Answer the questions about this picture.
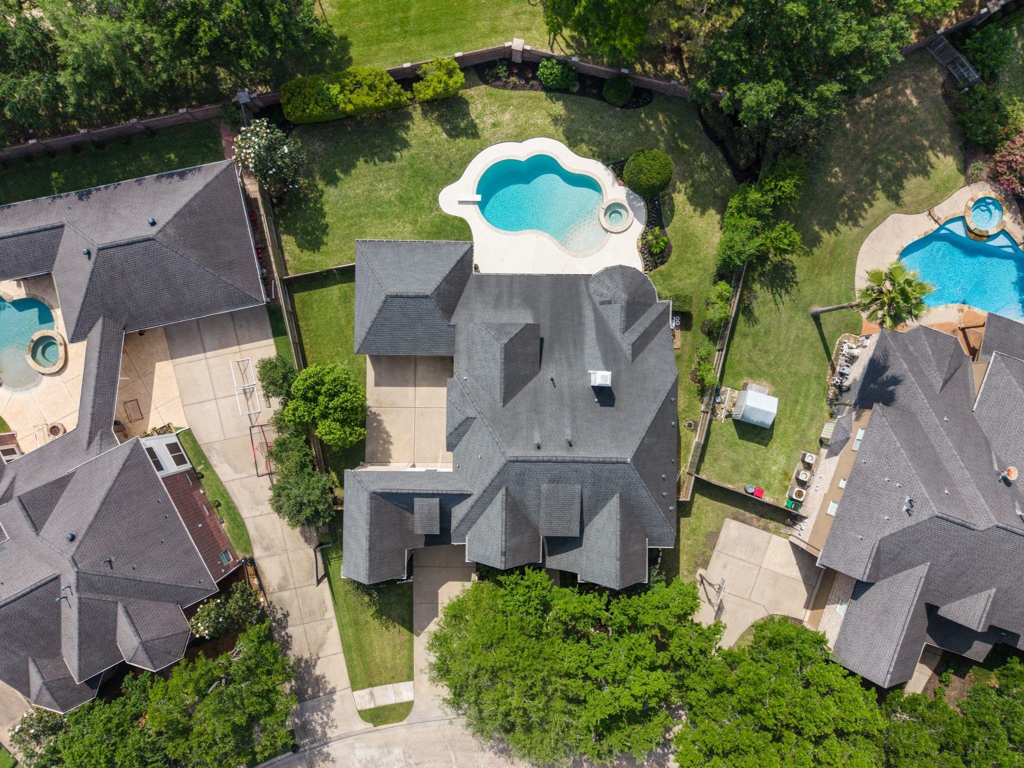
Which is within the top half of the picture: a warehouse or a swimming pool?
swimming pool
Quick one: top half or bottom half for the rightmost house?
bottom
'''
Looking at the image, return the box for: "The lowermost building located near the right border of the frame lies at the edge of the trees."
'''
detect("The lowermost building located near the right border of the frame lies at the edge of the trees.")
[783,311,1024,688]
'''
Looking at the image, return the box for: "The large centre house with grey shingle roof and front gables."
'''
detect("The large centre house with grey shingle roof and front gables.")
[340,238,680,590]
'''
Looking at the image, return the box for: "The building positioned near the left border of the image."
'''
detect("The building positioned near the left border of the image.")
[0,159,274,715]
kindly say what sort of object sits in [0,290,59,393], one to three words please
swimming pool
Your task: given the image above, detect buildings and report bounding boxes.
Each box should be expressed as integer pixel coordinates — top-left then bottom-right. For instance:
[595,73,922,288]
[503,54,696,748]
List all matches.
[783,311,1024,688]
[732,394,785,428]
[340,238,680,590]
[0,159,274,715]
